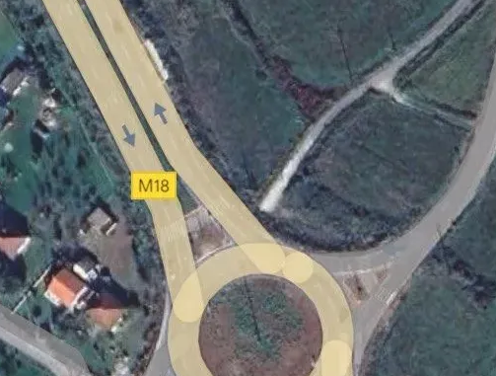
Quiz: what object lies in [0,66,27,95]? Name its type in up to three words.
house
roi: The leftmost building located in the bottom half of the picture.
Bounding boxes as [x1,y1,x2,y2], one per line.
[0,223,28,258]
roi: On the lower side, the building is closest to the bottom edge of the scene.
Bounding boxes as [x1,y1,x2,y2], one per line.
[85,293,124,328]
